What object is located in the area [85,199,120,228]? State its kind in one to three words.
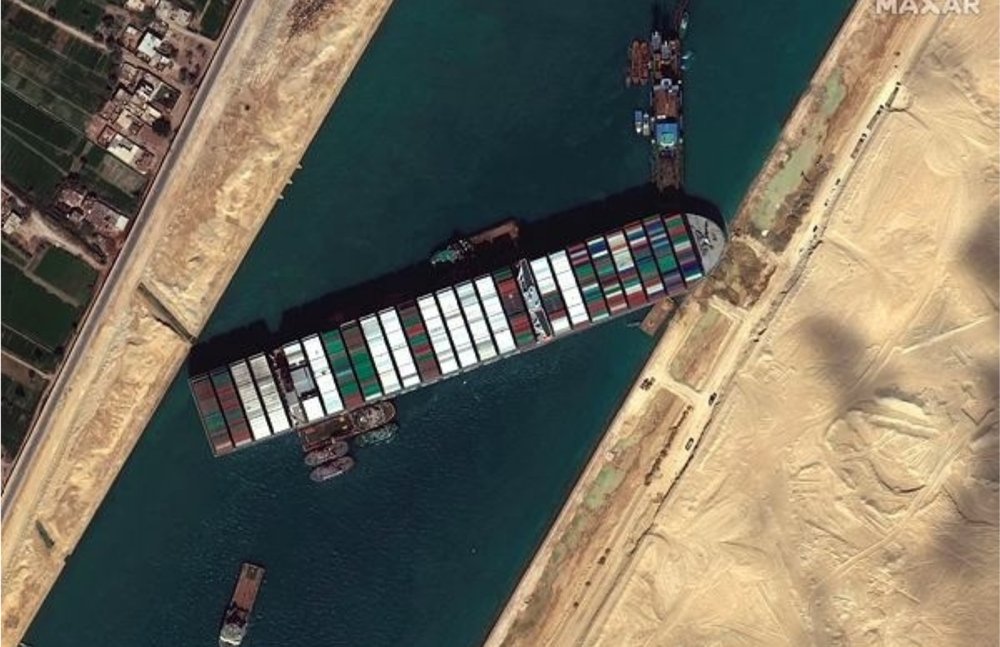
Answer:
house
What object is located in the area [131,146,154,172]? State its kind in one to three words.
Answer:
house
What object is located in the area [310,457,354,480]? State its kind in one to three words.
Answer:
boat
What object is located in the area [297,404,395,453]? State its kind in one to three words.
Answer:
ship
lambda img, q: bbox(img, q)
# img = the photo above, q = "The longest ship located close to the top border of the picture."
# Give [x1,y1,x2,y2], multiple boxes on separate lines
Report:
[649,30,684,187]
